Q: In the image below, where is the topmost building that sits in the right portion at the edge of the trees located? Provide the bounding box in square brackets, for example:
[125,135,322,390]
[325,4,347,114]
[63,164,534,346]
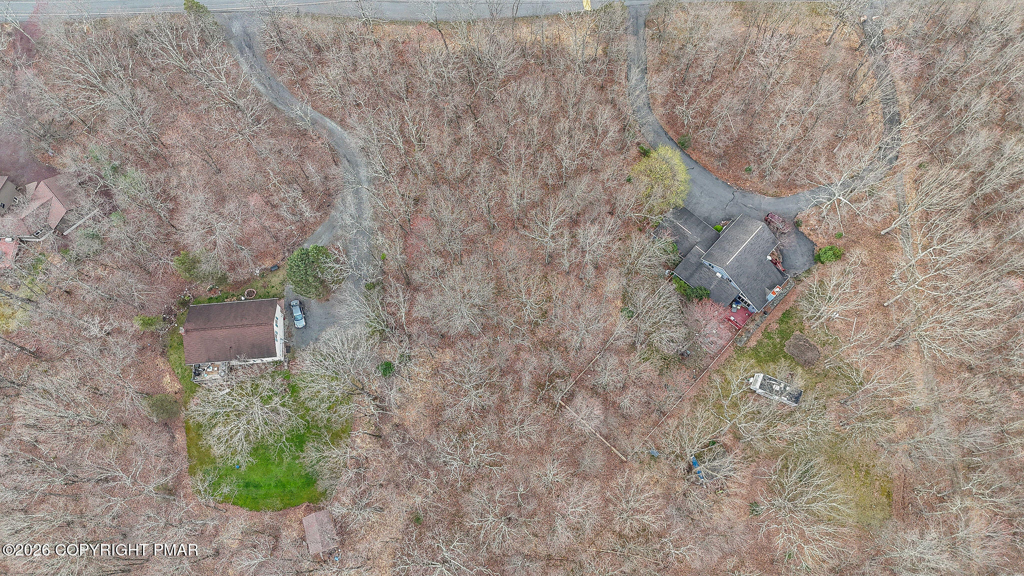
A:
[651,207,789,316]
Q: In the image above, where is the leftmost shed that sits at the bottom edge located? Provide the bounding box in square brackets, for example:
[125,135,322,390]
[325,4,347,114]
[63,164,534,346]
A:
[303,511,339,555]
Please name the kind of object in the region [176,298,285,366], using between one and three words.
house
